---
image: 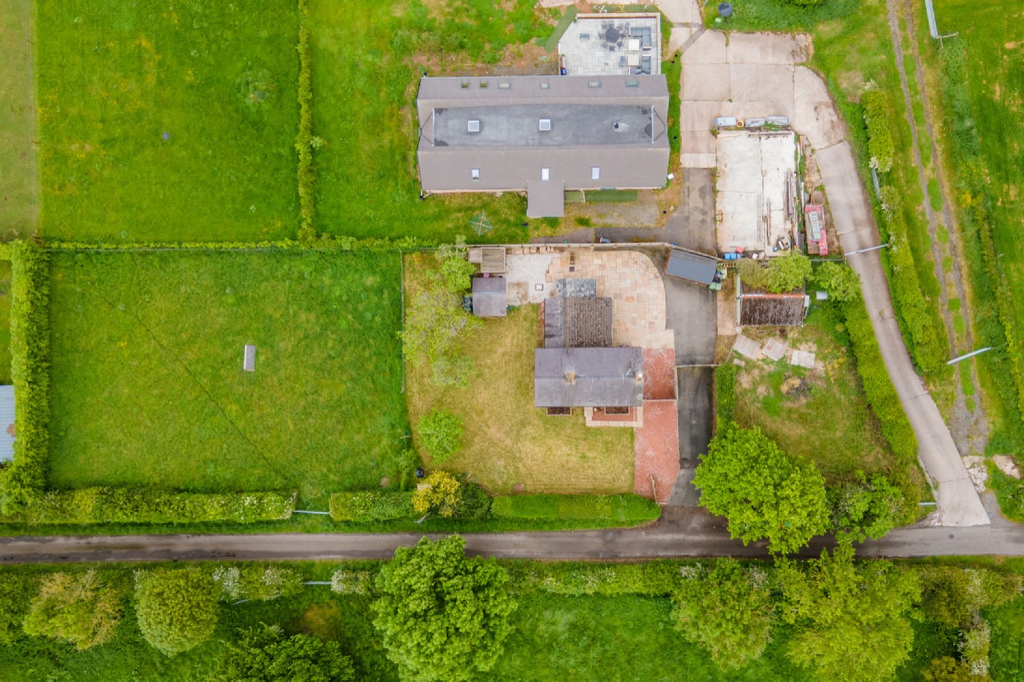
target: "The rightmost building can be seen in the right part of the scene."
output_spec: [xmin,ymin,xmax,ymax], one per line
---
[730,277,810,327]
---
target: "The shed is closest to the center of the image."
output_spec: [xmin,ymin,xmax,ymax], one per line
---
[472,277,506,317]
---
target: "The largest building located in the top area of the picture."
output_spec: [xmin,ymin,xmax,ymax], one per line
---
[417,74,671,221]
